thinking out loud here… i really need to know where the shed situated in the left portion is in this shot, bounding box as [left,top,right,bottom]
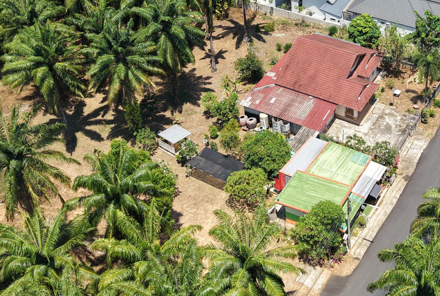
[154,121,192,156]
